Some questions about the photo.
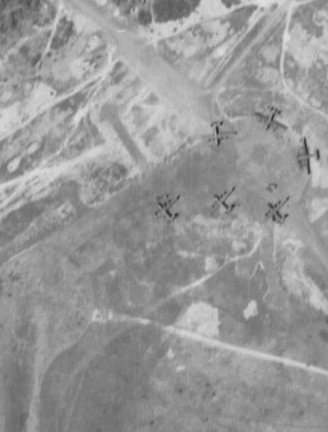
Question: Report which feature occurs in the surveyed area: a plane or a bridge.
plane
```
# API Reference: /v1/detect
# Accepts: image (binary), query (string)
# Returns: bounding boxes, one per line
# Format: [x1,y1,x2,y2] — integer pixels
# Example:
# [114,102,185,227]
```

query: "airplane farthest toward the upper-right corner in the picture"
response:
[254,109,286,131]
